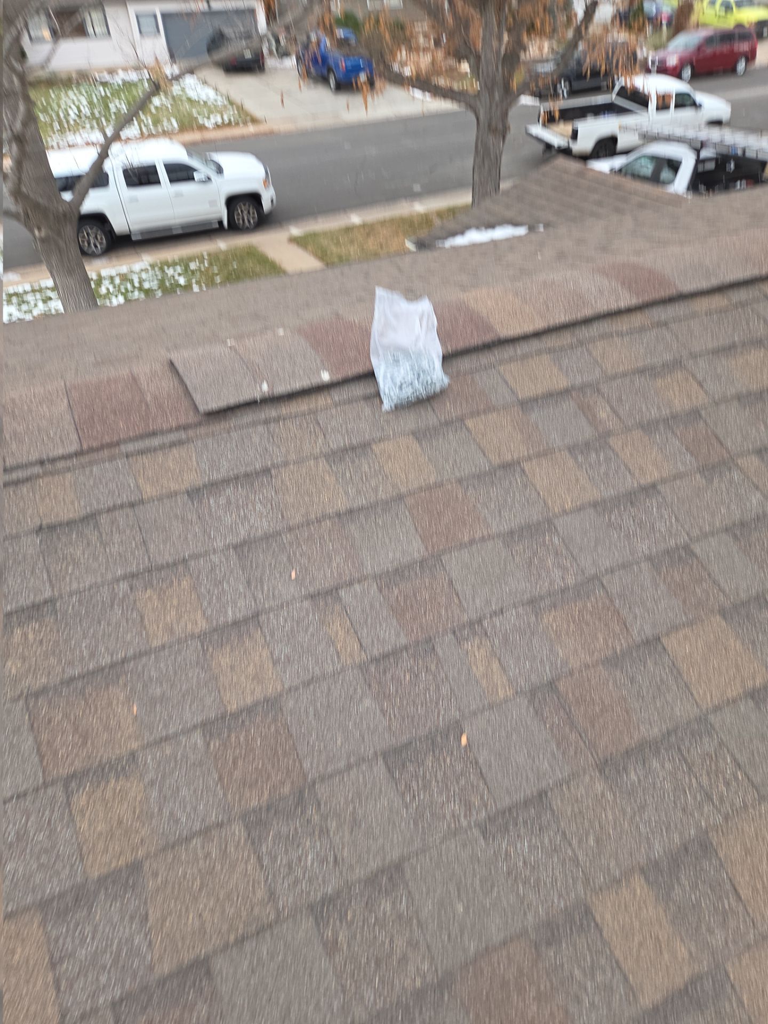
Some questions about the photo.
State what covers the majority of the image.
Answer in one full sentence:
For the most part, this view shows buildings.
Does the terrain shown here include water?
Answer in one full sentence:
No, there is no water in the image.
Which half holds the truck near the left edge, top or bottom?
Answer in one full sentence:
The truck near the left edge is in the top half of the image.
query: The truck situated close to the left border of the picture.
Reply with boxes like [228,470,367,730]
[17,137,274,257]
